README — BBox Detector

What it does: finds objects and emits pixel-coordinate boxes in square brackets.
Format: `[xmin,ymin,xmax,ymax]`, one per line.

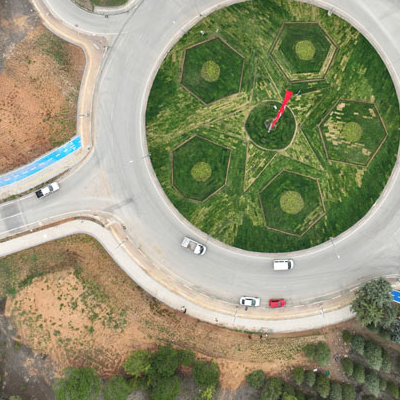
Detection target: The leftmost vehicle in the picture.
[34,180,60,198]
